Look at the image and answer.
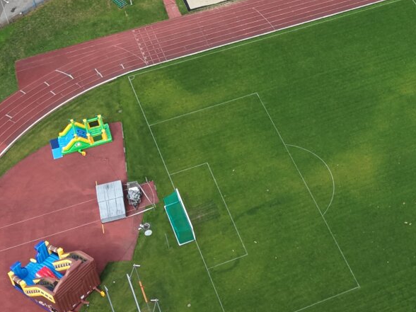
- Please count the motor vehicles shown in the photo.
none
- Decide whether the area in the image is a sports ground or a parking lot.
sports ground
